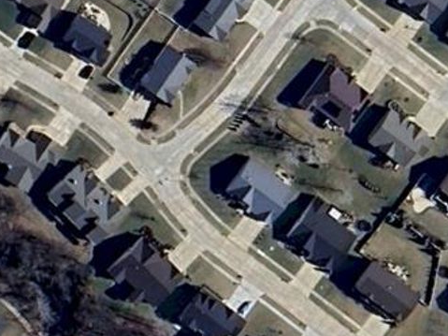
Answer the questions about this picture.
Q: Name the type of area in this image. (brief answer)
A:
residential area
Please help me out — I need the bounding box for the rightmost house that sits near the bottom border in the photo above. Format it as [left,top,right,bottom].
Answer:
[356,260,422,323]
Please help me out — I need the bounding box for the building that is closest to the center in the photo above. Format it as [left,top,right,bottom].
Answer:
[229,154,300,226]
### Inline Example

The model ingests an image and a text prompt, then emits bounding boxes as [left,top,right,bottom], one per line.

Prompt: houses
[302,65,374,132]
[60,11,117,69]
[287,200,358,272]
[356,260,422,323]
[180,287,247,336]
[394,0,447,23]
[369,105,436,169]
[139,42,198,105]
[105,233,178,302]
[193,0,254,43]
[14,0,62,31]
[48,162,123,239]
[229,154,300,226]
[0,125,52,194]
